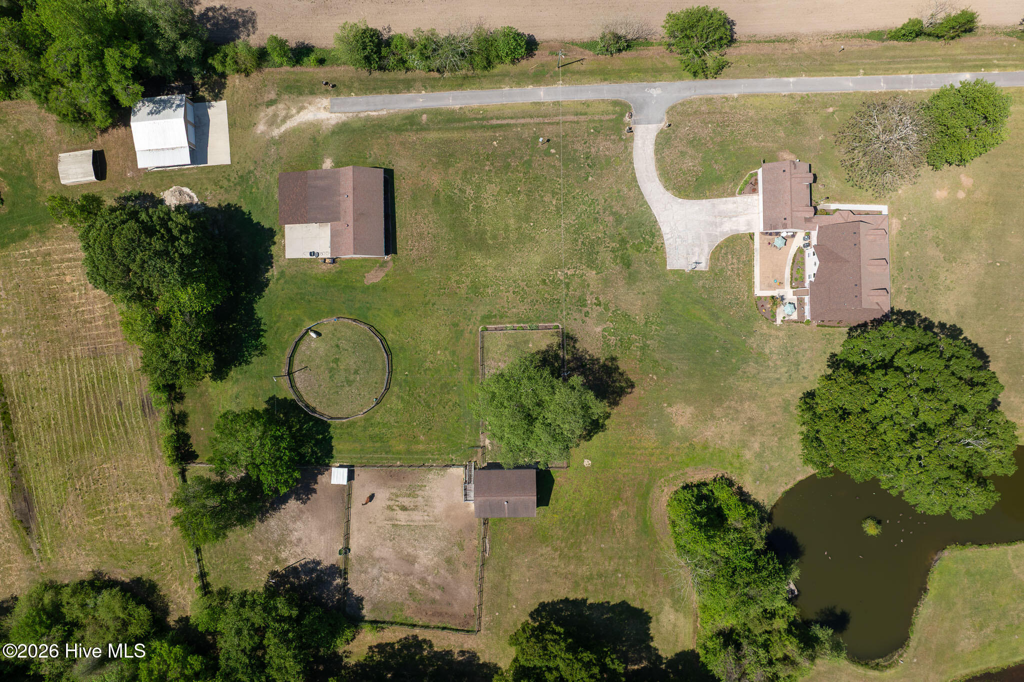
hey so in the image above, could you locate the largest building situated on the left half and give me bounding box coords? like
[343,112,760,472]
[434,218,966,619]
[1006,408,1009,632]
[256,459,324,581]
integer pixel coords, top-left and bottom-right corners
[279,166,390,260]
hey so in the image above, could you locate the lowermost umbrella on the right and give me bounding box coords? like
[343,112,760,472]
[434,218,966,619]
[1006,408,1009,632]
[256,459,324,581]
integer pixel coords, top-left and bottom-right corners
[782,303,797,316]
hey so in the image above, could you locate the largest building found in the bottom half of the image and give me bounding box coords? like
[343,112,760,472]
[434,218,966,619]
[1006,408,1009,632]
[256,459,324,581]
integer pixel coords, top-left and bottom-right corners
[474,467,536,519]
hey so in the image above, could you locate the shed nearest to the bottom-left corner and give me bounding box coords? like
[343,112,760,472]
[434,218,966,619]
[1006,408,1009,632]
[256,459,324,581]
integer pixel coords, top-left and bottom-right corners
[332,465,351,484]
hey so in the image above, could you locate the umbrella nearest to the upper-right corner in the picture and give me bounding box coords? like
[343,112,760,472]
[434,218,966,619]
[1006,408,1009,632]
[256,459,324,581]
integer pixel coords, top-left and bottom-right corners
[774,235,788,249]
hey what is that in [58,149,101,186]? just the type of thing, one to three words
shed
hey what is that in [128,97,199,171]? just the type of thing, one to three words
barn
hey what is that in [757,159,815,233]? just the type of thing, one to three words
building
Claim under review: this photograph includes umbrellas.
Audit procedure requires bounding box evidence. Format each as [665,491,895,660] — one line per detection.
[782,303,797,316]
[774,235,788,249]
